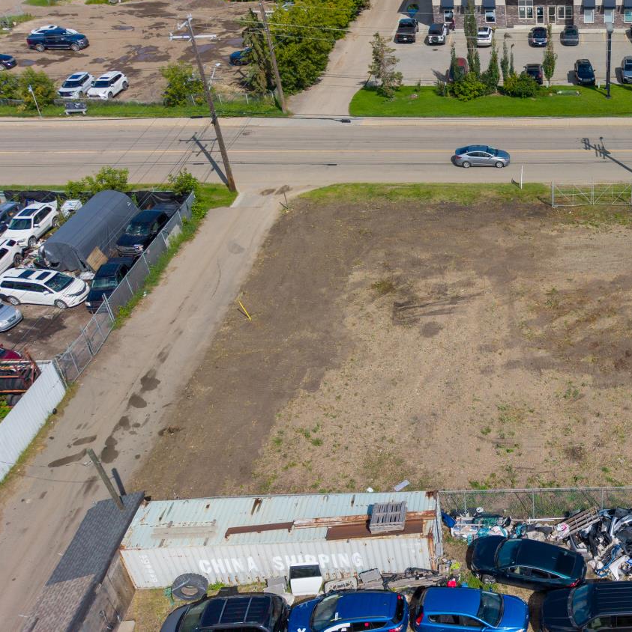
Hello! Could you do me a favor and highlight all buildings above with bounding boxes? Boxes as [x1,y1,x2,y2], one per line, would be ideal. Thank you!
[427,0,632,29]
[20,492,149,632]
